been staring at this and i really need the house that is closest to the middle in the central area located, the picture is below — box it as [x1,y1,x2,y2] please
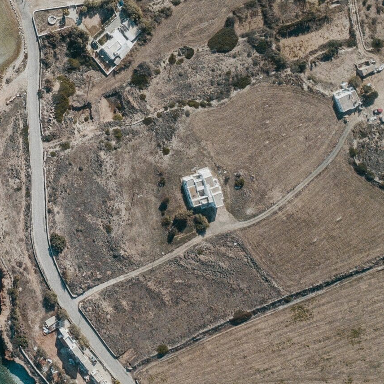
[177,164,225,208]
